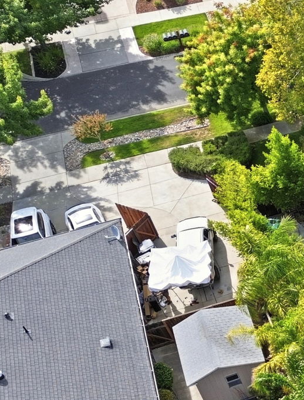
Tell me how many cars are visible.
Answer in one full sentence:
I count 3 cars.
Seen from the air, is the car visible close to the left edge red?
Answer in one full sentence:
No, the color of the car visible close to the left edge is white.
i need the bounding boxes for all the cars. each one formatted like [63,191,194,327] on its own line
[9,206,52,246]
[68,197,106,231]
[174,219,223,278]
